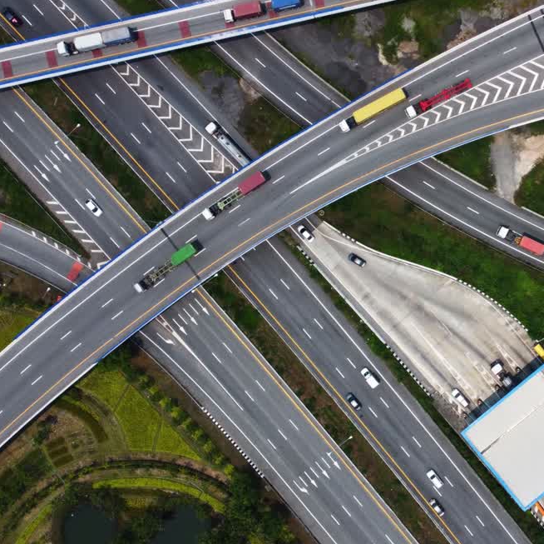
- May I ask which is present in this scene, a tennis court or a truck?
truck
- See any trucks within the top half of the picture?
Yes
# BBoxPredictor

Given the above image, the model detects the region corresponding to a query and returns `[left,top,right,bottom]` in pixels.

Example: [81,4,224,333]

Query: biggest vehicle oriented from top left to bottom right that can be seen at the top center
[201,121,251,171]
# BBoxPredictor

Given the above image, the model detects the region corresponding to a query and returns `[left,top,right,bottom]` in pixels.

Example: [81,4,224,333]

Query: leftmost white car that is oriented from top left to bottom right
[83,199,102,217]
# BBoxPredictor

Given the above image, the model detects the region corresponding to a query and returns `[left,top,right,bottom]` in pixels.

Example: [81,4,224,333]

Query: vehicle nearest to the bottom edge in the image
[429,497,446,516]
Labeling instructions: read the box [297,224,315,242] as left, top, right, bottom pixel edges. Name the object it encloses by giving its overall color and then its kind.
white car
